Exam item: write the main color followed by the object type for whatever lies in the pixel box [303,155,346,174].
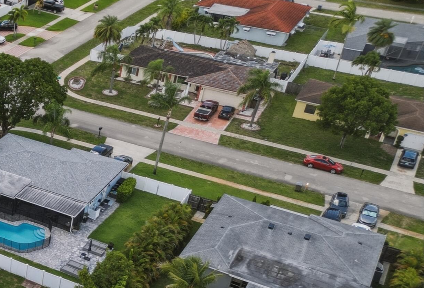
red car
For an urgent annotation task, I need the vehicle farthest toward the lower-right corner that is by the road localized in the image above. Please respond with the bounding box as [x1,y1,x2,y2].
[356,199,386,228]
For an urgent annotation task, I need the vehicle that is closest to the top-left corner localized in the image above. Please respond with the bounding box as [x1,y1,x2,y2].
[0,17,19,29]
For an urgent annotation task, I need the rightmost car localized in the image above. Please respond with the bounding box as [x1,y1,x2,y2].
[399,147,423,167]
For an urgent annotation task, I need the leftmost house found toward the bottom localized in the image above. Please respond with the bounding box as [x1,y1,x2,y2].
[0,133,130,239]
